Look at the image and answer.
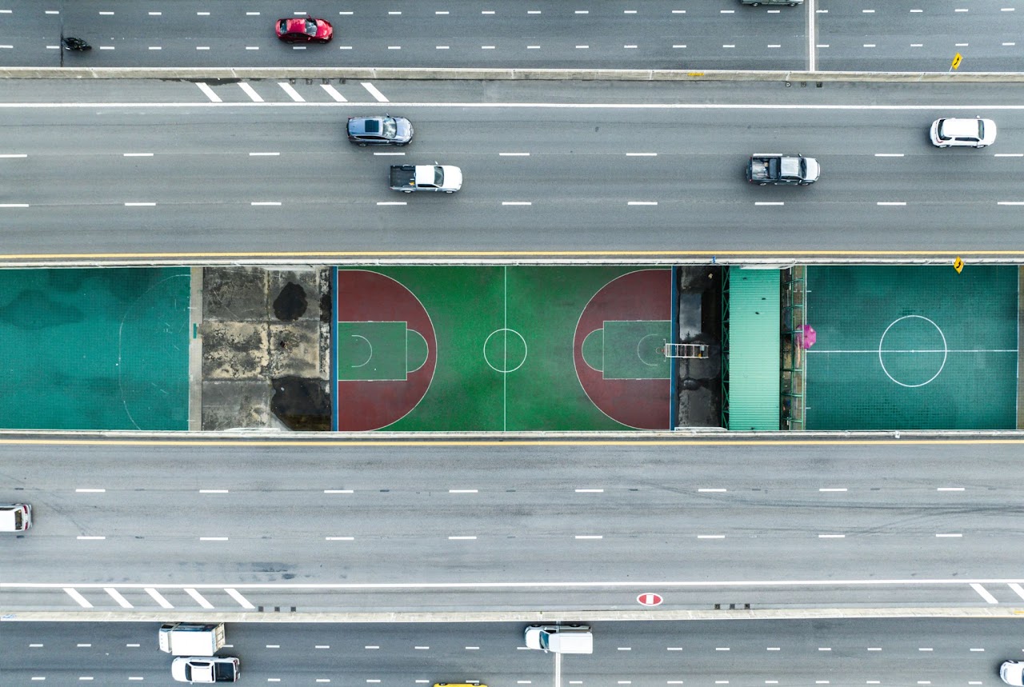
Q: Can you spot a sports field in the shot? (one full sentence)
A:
Yes, a sports field is visible in the scene.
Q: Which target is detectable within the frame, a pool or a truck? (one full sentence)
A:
There is a truck in the scene.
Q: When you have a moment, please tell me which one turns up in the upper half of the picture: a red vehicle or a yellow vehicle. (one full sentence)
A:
It is a red vehicle that can be seen in the upper half of the picture.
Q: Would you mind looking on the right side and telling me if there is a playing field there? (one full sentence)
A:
Yes, the scene does show a playing field on the right side.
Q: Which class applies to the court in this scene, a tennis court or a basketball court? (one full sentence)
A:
Specifically, the court is a basketball court.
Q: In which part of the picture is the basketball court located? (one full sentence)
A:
The basketball court appears toward the center of the photo.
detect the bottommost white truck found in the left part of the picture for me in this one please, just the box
[173,654,241,686]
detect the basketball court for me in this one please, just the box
[337,266,672,430]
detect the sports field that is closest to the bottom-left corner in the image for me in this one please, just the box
[0,268,189,430]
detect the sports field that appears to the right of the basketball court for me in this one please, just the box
[805,266,1018,429]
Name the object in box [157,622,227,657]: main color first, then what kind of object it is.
white truck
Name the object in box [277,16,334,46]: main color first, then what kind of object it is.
red car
